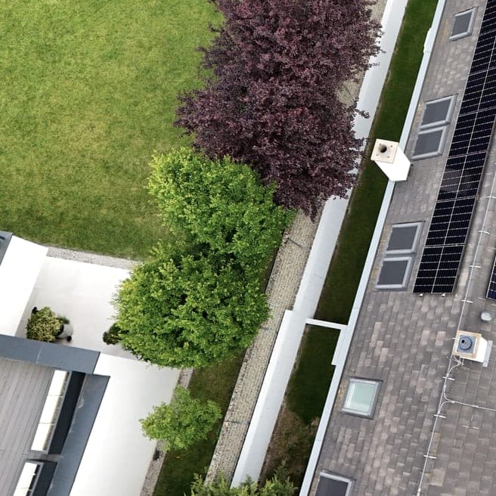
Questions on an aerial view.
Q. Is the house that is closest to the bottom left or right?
left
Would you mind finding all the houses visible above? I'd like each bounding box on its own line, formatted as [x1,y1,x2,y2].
[0,332,181,496]
[301,0,496,496]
